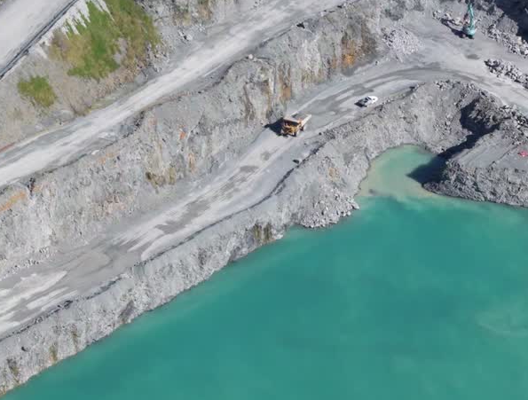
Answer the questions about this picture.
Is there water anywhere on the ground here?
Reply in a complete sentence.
Yes, water shows up in the scene.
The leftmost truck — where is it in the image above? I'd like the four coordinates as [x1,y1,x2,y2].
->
[281,106,315,136]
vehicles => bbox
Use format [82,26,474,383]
[357,95,377,105]
[281,106,315,136]
[464,10,477,39]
